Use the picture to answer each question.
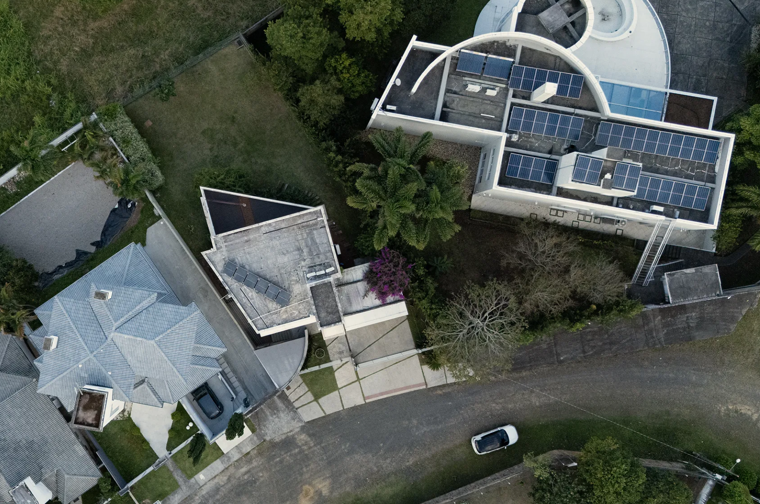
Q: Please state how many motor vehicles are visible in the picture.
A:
two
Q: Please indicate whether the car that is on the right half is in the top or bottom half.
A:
bottom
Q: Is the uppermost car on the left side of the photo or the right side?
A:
left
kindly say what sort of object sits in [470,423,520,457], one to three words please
car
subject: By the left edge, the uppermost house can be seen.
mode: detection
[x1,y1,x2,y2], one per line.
[29,243,227,409]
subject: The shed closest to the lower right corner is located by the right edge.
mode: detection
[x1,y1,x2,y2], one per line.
[653,265,723,304]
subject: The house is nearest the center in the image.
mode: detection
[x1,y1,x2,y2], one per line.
[198,186,408,340]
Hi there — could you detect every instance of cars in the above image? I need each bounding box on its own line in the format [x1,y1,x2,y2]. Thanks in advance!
[192,380,227,427]
[470,423,520,457]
